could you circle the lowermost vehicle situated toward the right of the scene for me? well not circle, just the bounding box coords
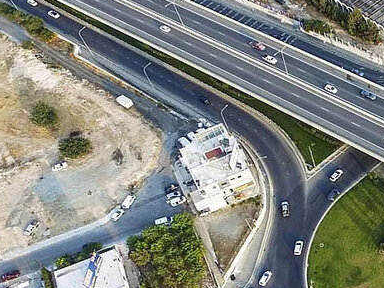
[258,270,272,286]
